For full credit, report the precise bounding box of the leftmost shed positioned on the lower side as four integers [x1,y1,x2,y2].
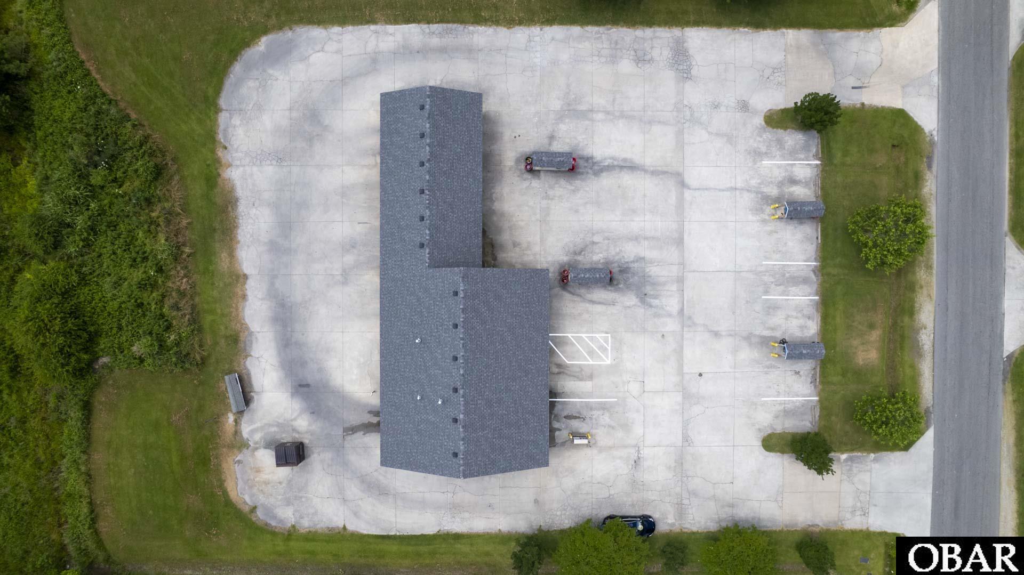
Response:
[224,374,251,414]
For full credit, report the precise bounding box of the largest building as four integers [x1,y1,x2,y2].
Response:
[380,86,549,479]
